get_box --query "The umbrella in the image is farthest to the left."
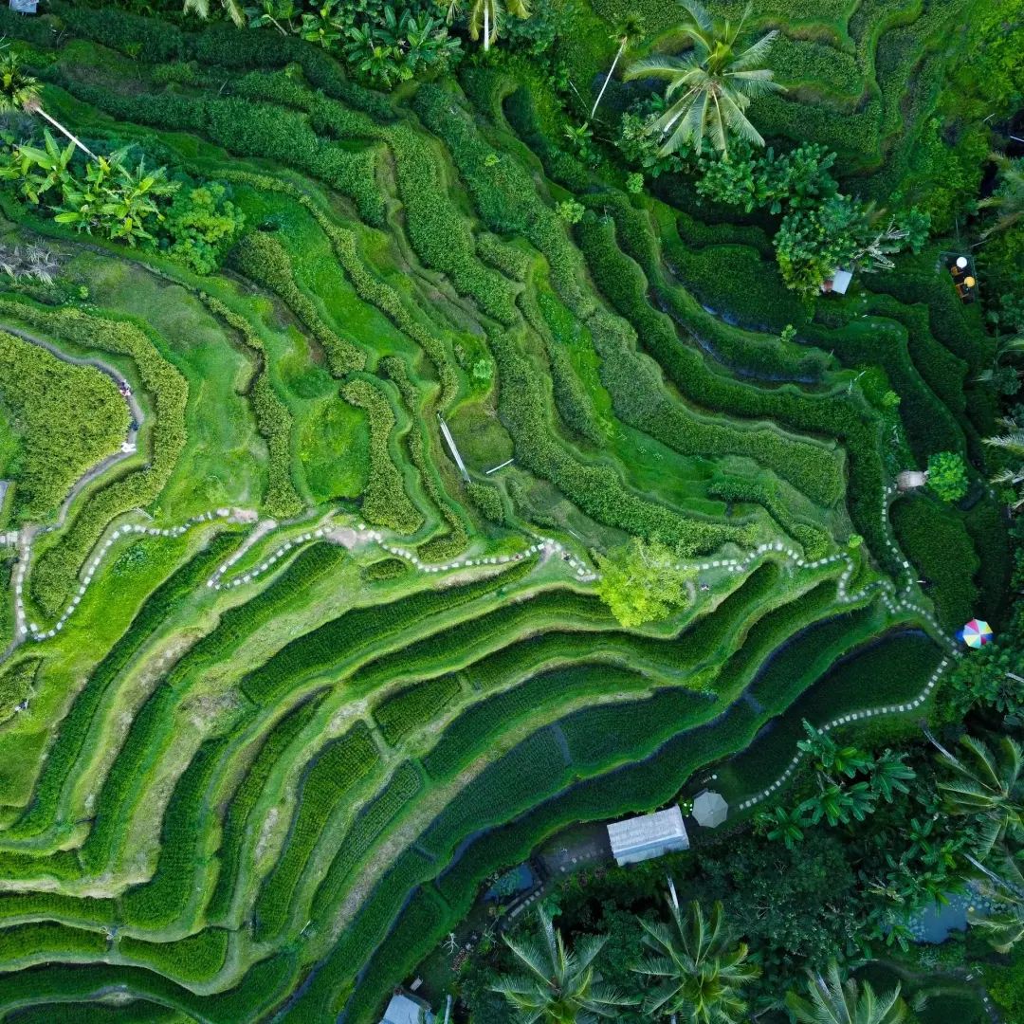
[693,791,729,827]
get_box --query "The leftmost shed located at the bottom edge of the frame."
[376,990,435,1024]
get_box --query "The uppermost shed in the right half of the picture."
[822,269,853,298]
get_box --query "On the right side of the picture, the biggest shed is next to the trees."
[607,802,690,867]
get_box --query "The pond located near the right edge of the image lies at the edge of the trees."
[891,879,1024,943]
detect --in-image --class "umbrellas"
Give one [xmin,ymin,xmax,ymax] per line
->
[959,617,992,648]
[693,791,729,827]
